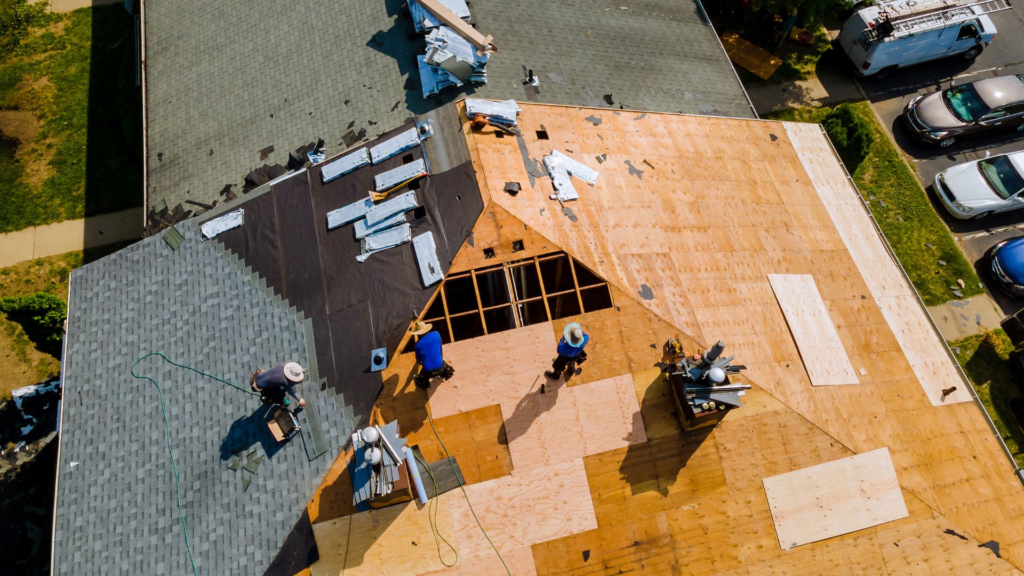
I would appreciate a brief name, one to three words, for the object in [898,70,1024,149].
car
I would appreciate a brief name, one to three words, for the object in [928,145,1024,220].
car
